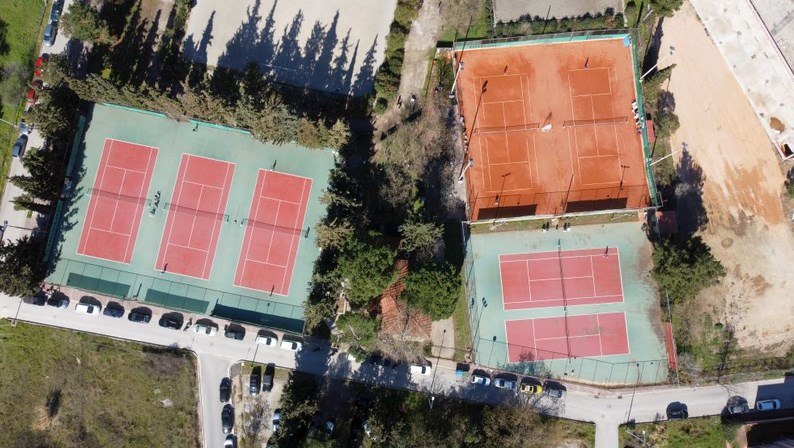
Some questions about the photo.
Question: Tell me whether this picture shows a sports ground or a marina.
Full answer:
This looks like a sports ground.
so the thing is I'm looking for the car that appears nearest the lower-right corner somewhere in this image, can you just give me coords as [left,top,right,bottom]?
[758,399,782,412]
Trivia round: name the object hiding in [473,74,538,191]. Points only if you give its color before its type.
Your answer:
orange tennis court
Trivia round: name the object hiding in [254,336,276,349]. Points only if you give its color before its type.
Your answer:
white vehicle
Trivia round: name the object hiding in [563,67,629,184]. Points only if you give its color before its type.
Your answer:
orange tennis court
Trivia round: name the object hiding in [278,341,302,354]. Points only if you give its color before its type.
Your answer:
white vehicle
